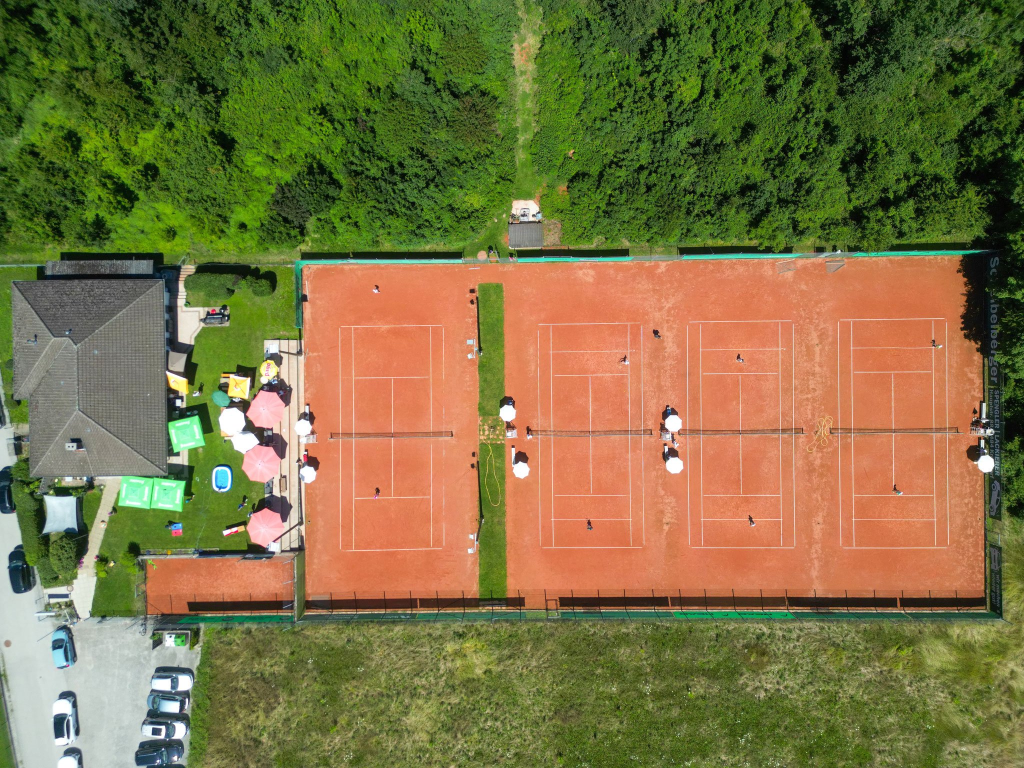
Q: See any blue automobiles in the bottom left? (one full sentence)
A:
Yes, a blue automobile shows up in the bottom left.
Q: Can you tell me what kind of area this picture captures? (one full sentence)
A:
This looks like a sports ground.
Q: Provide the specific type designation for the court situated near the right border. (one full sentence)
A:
The court situated near the right border can be classified as a tennis court.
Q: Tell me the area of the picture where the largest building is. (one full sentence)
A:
The largest building is in the left part of the image.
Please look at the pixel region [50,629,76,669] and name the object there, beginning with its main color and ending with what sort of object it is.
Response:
blue car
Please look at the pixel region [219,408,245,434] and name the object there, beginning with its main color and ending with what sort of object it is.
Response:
white umbrella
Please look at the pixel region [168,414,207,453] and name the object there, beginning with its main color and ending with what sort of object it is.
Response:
green umbrella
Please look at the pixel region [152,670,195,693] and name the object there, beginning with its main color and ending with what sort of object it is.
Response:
white car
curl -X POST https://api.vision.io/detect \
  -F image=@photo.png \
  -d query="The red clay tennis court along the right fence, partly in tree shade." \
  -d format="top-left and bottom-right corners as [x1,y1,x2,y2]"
[817,258,986,609]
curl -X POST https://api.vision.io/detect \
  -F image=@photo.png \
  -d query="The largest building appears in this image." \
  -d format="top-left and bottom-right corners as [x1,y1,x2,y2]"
[11,279,168,478]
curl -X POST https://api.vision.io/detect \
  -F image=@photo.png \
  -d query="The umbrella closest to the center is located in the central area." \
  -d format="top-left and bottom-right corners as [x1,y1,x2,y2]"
[499,405,516,421]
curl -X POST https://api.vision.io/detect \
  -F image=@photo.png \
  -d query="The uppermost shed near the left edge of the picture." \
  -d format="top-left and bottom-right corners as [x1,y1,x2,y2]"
[45,260,156,276]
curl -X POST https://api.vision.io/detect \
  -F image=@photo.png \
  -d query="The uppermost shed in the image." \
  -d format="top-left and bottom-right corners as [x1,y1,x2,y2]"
[509,223,543,249]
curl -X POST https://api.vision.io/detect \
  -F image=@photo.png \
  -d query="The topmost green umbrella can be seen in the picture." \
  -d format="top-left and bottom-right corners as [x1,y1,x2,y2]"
[211,389,232,408]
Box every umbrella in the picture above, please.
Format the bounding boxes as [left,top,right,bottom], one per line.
[513,462,529,478]
[231,431,259,453]
[499,405,516,421]
[300,466,316,482]
[219,408,245,434]
[295,419,312,435]
[973,455,994,472]
[168,352,191,372]
[246,508,285,547]
[665,416,681,431]
[119,476,154,510]
[151,476,187,512]
[247,390,284,428]
[667,457,682,473]
[211,389,232,408]
[168,414,207,453]
[227,375,250,399]
[166,370,192,396]
[242,443,281,482]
